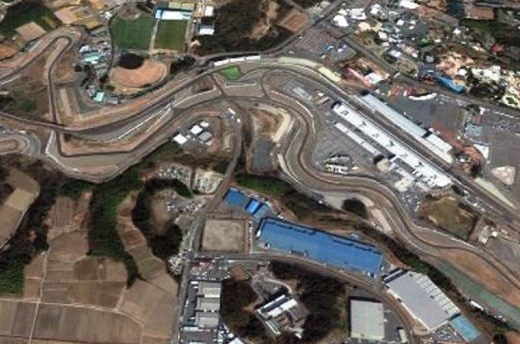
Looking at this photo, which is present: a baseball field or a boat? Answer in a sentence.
I can see a baseball field in this picture.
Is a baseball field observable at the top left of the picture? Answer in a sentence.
Yes, the scene does show a baseball field at the top left of the picture.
